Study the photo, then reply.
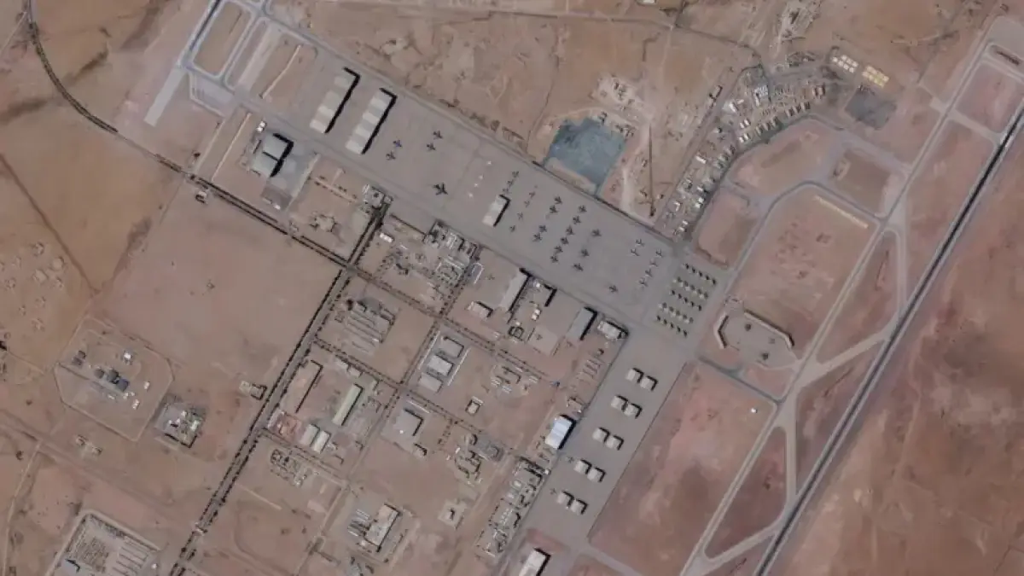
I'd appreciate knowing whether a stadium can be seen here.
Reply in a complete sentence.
No, the picture doesn't show any stadium.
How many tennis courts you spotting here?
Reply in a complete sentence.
Not a single tennis court can be seen.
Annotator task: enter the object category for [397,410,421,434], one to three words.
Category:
building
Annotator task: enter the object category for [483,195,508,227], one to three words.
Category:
hangar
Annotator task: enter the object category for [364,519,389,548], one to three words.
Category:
building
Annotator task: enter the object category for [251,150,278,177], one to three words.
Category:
hangar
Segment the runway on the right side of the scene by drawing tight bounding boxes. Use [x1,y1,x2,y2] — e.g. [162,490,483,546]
[751,98,1024,576]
